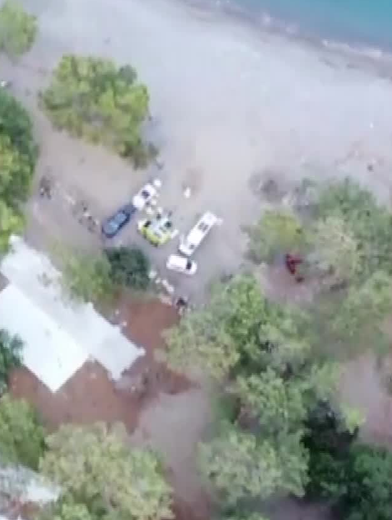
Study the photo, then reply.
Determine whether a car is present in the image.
Yes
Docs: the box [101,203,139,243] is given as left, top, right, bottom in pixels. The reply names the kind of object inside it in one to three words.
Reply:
truck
